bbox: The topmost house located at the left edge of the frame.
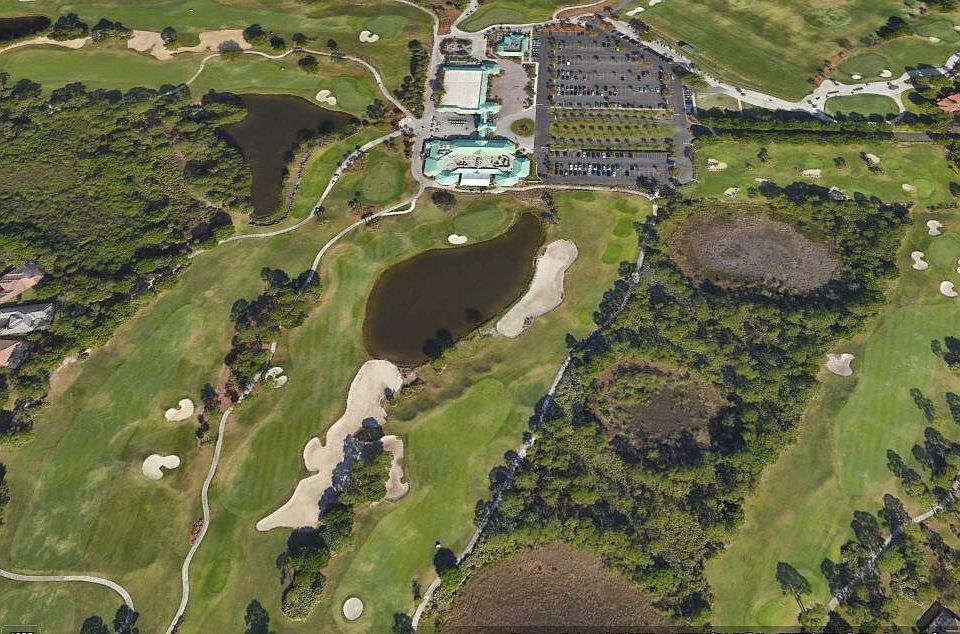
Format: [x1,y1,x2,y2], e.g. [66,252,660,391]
[0,263,44,308]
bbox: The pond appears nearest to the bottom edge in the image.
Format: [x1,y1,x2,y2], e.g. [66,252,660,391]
[364,215,544,366]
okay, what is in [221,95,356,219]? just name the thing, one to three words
pond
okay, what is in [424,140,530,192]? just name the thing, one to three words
building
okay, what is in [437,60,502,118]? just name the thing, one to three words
barn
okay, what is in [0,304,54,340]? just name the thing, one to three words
house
